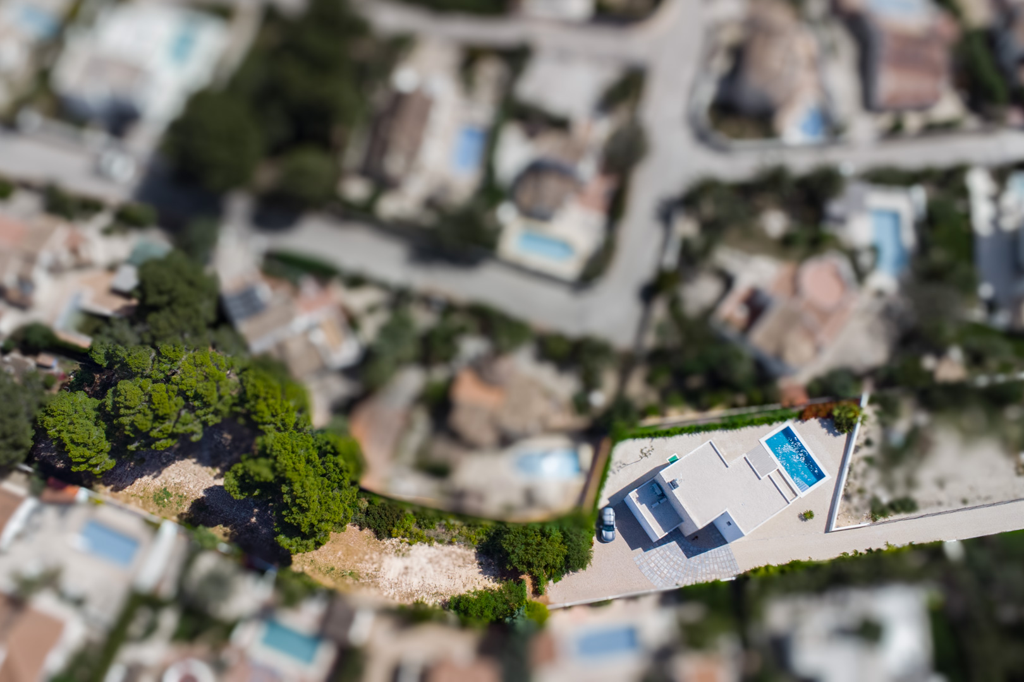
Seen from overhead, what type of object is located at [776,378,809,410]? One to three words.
shed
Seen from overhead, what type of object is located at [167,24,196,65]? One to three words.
swimming pool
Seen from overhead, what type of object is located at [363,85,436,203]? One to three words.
house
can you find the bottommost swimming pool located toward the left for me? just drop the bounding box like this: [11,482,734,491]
[256,612,326,672]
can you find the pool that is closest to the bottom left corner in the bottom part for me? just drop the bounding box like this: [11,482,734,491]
[74,513,145,571]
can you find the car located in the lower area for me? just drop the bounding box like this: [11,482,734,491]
[598,505,618,544]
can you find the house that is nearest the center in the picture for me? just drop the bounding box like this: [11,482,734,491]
[452,357,597,450]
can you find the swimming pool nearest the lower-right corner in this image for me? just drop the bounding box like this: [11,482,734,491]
[757,420,834,501]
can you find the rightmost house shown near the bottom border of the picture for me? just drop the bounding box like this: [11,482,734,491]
[765,589,934,682]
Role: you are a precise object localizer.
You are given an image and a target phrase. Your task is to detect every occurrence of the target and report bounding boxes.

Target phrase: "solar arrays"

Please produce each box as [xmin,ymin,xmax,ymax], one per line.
[228,279,271,320]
